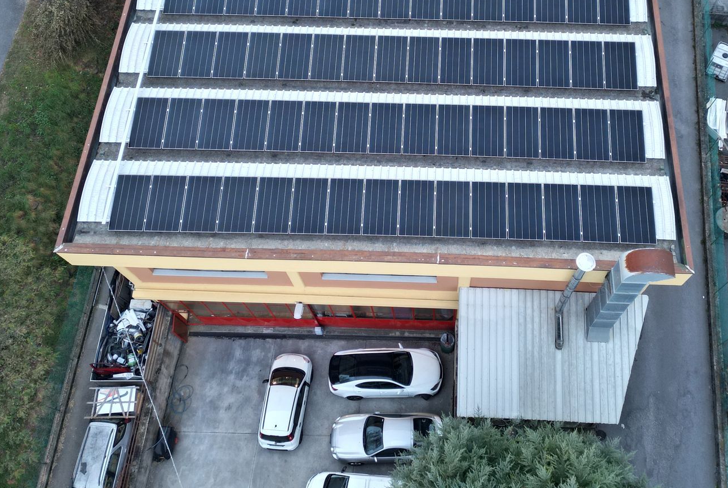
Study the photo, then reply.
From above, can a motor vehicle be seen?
Yes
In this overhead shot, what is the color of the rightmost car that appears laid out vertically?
white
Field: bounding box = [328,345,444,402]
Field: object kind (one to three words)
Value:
car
